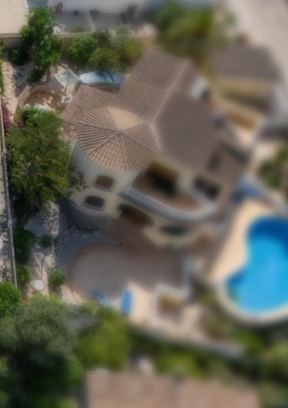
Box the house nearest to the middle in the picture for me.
[60,50,247,255]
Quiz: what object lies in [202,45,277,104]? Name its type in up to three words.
building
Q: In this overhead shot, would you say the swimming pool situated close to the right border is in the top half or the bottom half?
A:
bottom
